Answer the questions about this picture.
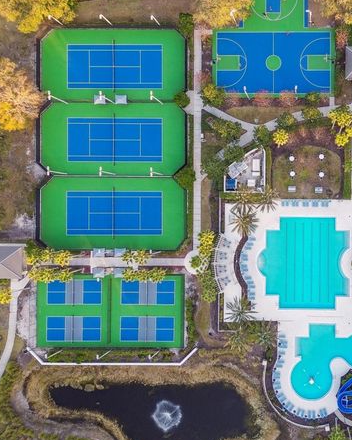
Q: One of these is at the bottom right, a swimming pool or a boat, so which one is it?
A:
swimming pool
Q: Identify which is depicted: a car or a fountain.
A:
fountain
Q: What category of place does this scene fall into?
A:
sports ground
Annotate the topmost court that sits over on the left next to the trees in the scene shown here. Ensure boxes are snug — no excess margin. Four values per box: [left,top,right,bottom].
[41,29,183,101]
